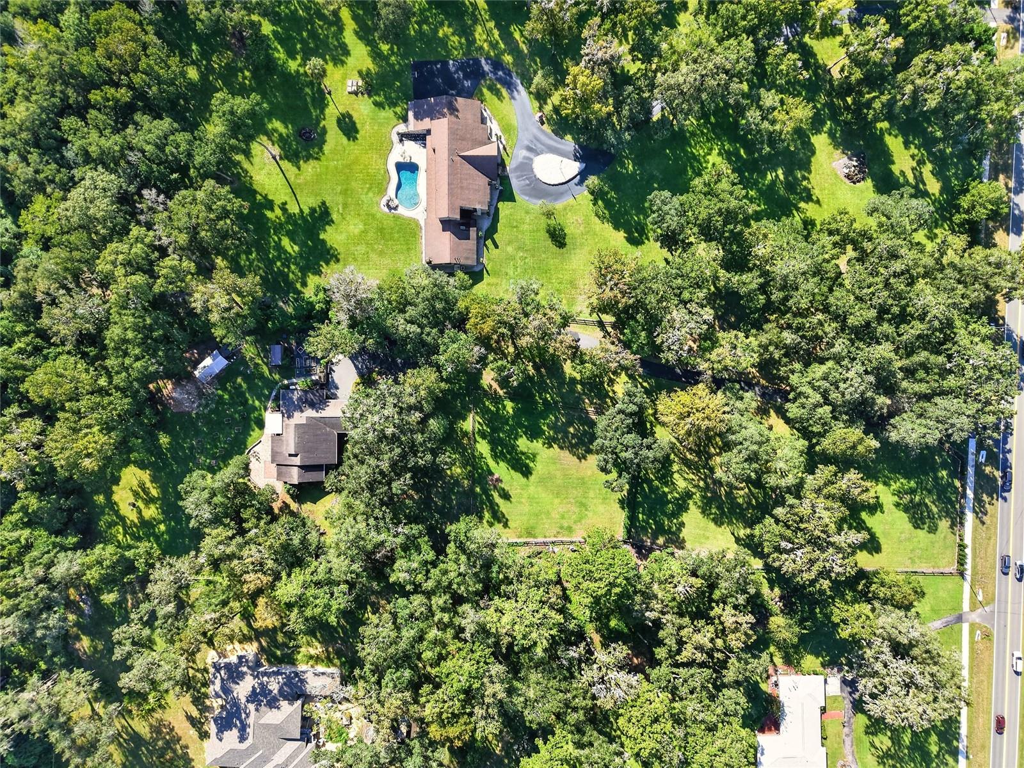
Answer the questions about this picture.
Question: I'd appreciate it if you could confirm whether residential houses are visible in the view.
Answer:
Yes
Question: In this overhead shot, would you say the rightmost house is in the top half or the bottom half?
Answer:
bottom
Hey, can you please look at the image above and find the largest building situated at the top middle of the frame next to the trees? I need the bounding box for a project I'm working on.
[408,95,497,265]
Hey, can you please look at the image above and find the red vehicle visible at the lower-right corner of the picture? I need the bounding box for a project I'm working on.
[994,714,1006,733]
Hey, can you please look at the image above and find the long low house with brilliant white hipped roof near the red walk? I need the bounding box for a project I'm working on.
[754,671,827,768]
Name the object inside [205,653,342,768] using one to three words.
house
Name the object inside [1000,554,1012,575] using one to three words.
vehicle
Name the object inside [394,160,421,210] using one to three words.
swimming pool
